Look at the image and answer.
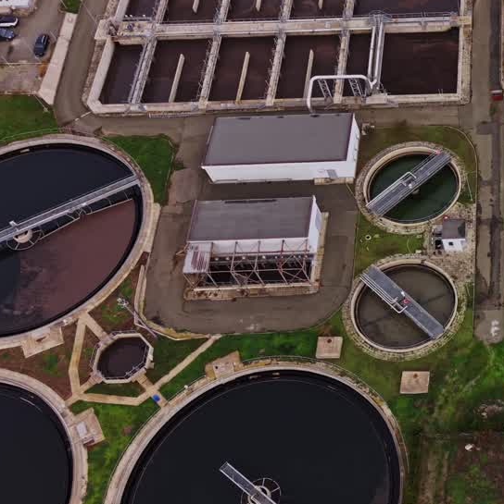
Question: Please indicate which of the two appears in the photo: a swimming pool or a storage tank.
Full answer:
It is a storage tank that can be seen here.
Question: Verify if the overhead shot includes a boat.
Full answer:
No, there is no boat in the image.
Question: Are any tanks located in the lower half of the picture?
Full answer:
Yes, in the lower half of the picture there is a tank.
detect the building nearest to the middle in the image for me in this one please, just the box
[177,195,320,288]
